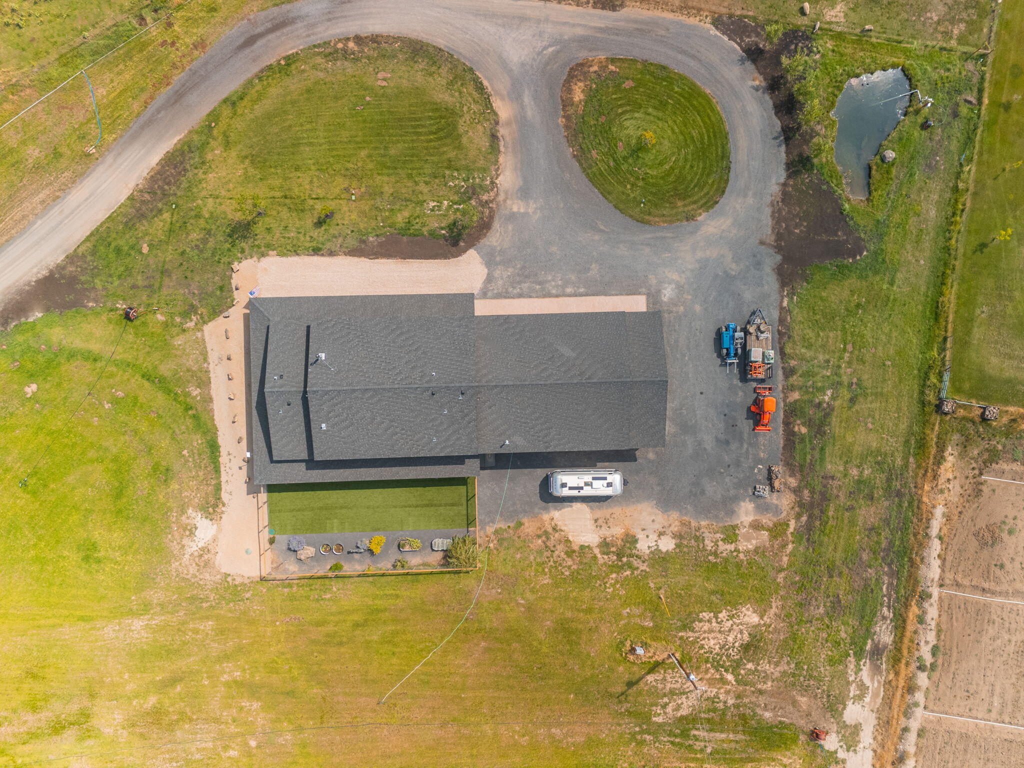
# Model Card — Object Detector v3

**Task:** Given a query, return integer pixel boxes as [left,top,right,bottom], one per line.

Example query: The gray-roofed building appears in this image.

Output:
[249,293,668,485]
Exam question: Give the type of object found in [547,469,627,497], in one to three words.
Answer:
trailer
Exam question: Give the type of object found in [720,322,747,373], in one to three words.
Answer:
work vehicle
